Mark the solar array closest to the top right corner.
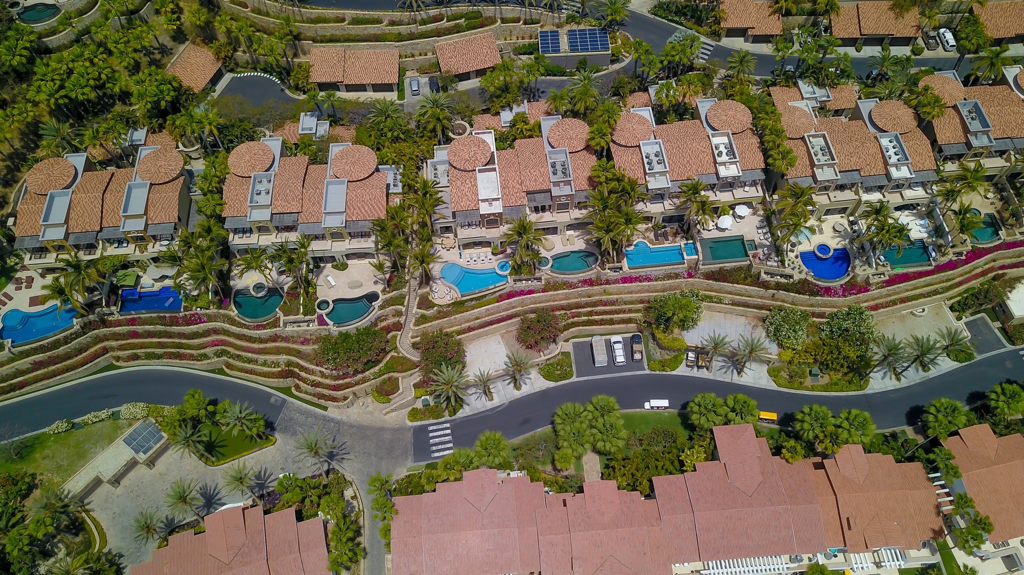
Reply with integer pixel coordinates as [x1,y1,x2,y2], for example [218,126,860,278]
[568,28,609,52]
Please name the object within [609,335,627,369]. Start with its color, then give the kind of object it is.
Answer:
white car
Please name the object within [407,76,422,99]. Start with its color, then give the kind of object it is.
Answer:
gray car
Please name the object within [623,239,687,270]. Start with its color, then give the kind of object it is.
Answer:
blue swimming pool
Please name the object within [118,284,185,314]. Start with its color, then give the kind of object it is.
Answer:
blue swimming pool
